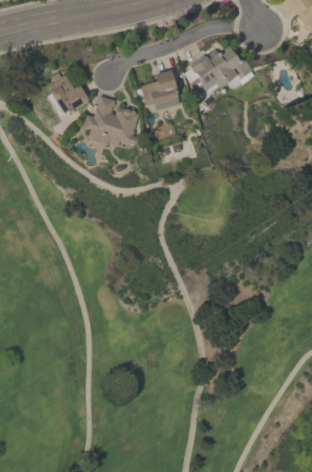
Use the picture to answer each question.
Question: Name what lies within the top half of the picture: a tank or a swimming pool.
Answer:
swimming pool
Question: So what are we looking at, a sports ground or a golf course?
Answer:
golf course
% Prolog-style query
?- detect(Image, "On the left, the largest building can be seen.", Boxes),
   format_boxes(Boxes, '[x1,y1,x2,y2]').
[82,96,142,146]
